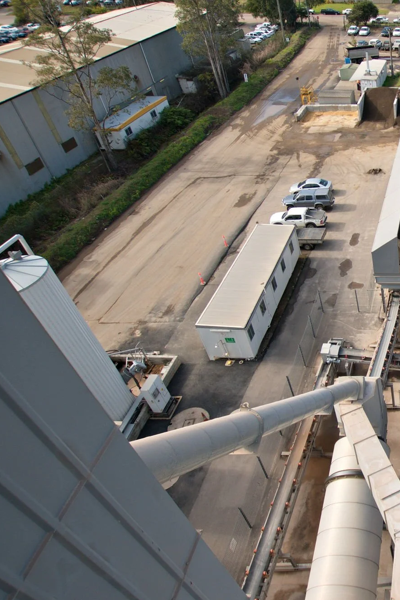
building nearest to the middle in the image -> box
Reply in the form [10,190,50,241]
[192,223,301,358]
